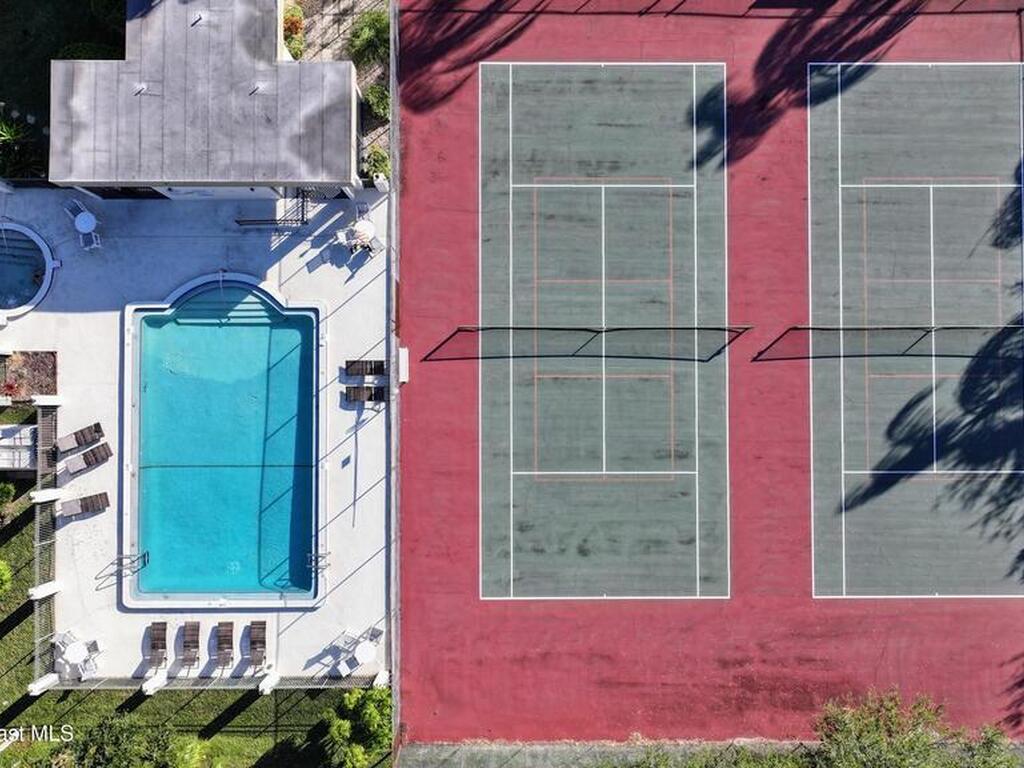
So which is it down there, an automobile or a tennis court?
tennis court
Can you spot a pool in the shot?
Yes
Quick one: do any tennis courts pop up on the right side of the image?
Yes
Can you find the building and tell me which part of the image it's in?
top left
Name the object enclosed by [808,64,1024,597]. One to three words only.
tennis court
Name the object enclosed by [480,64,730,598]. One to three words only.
tennis court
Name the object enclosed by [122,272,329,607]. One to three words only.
swimming pool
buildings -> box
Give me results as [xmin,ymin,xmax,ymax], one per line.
[49,0,366,202]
